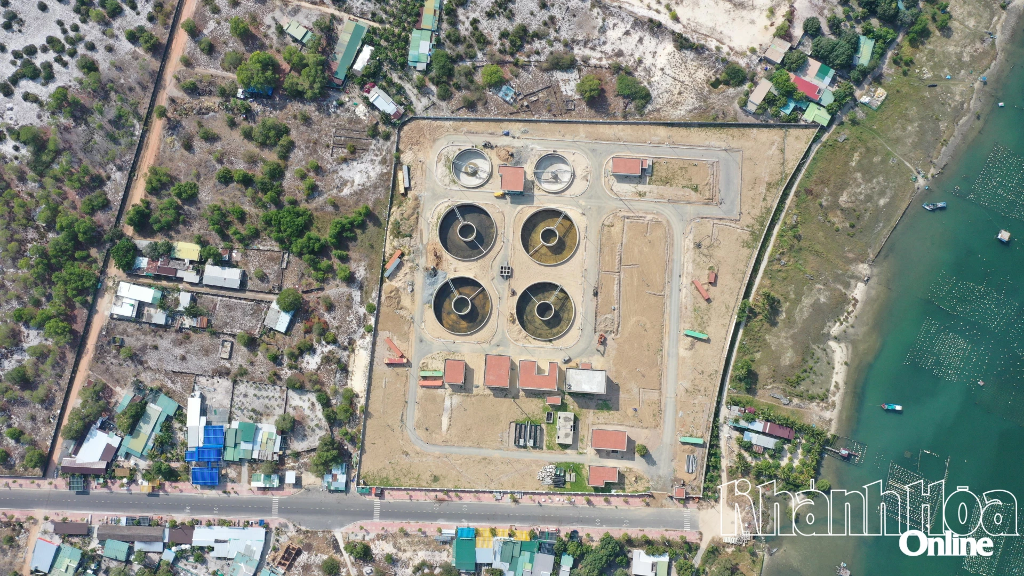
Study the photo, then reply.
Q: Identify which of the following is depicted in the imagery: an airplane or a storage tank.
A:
storage tank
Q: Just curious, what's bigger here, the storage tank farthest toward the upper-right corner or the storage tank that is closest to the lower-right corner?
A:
the storage tank that is closest to the lower-right corner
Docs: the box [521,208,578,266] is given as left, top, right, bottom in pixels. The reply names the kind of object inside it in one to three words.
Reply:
storage tank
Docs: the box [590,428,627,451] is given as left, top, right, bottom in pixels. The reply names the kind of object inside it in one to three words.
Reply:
building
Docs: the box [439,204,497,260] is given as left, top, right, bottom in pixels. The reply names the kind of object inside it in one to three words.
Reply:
storage tank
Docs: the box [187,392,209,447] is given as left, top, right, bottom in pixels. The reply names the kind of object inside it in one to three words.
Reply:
house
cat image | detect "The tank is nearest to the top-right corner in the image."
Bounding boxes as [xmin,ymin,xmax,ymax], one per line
[534,154,573,193]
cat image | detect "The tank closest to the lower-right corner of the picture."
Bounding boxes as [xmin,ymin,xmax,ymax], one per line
[516,282,575,340]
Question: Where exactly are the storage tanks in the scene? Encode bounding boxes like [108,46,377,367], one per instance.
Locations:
[521,208,578,266]
[534,154,573,193]
[452,149,491,188]
[439,204,497,260]
[516,282,575,340]
[432,276,491,335]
